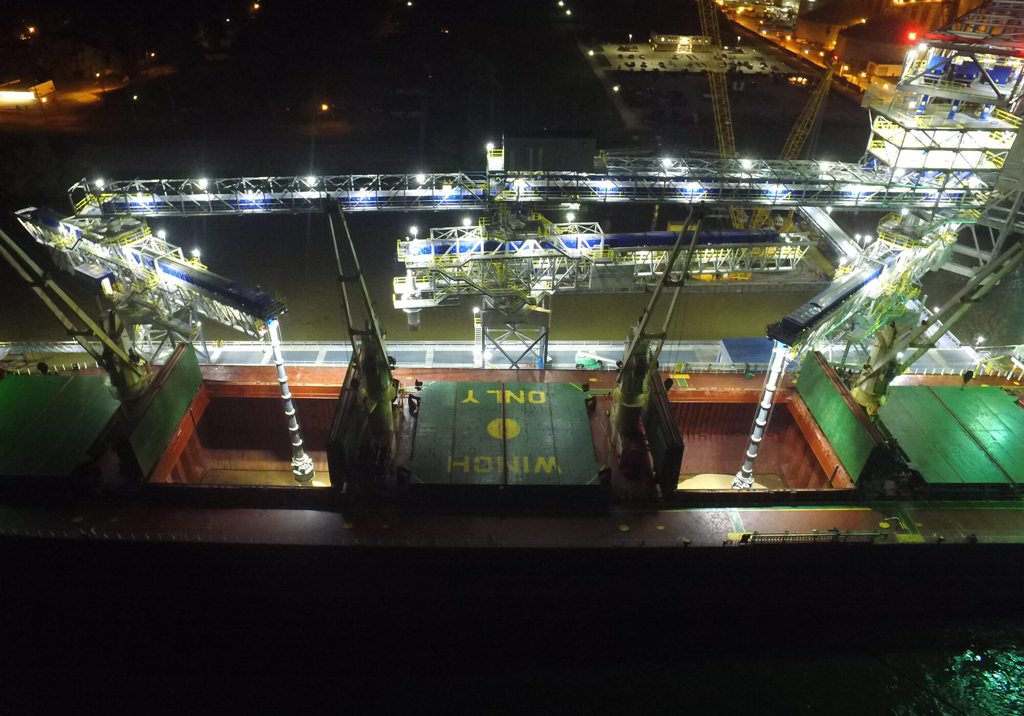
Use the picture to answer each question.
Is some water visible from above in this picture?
Yes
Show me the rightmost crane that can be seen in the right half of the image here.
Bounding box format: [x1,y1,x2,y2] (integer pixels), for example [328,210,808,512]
[845,226,1024,427]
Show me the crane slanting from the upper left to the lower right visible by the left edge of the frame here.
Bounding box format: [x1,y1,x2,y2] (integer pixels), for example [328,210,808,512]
[0,214,157,423]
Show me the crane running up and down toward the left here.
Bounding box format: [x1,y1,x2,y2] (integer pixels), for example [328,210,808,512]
[325,198,404,452]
